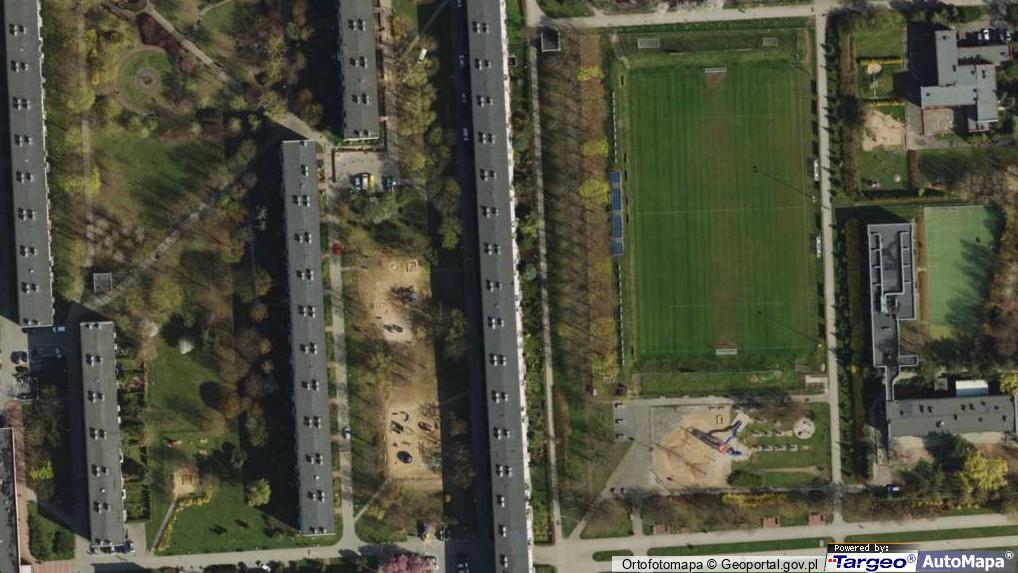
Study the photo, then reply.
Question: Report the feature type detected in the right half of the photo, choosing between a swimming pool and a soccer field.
soccer field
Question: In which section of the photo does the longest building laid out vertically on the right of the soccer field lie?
right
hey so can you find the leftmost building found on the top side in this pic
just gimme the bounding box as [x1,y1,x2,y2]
[4,0,56,327]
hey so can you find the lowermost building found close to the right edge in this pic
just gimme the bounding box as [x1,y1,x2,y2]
[887,395,1015,437]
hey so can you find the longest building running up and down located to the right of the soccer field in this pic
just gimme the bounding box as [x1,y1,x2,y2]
[867,223,918,401]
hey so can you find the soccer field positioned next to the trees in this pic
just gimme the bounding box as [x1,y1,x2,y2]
[621,62,818,374]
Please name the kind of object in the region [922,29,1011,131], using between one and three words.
building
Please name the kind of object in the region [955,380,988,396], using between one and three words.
building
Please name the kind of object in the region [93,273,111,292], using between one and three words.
house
